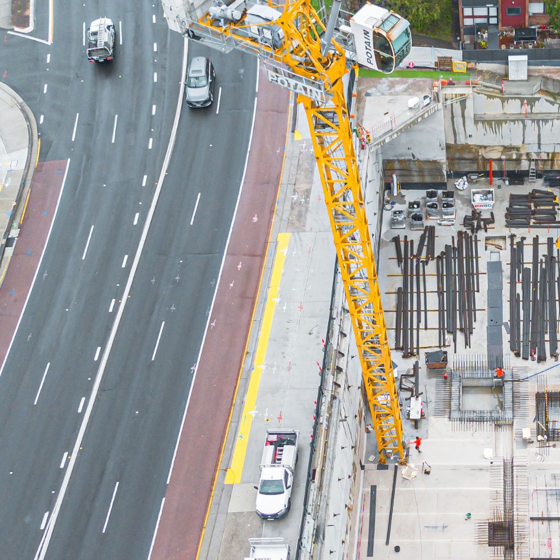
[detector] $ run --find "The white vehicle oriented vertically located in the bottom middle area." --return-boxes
[250,428,295,523]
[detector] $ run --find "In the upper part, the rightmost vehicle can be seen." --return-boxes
[180,57,213,106]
